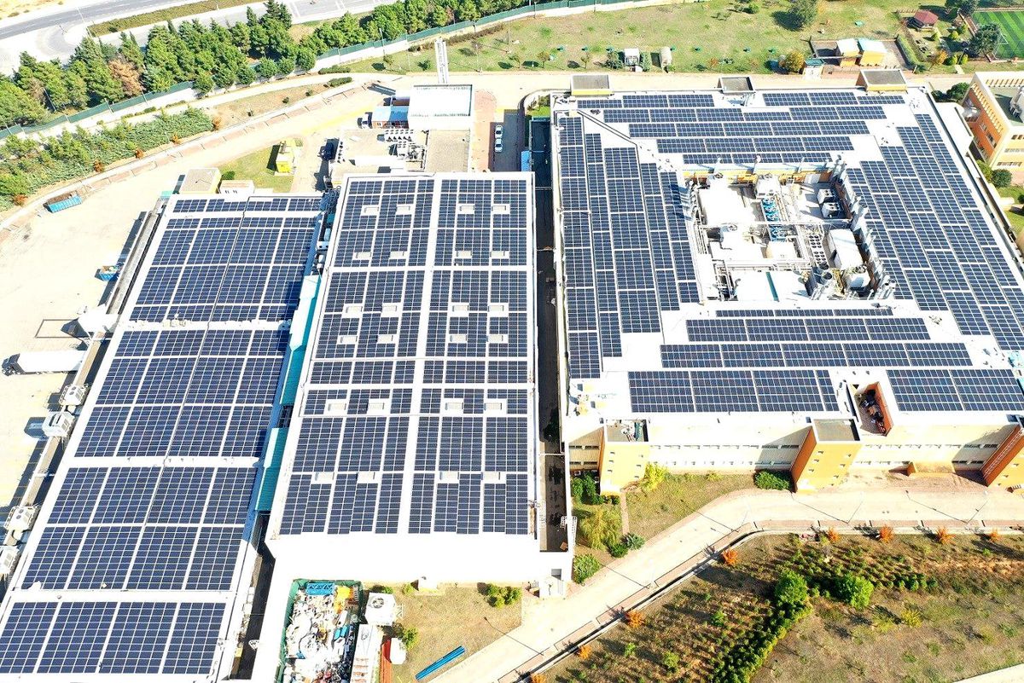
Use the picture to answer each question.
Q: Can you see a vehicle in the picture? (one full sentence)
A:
Yes, a vehicle is visible in the scene.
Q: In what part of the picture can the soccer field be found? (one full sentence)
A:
The soccer field is located in the top right region of the scene.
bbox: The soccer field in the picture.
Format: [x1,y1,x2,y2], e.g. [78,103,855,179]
[974,10,1024,59]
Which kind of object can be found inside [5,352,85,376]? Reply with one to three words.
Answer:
truck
